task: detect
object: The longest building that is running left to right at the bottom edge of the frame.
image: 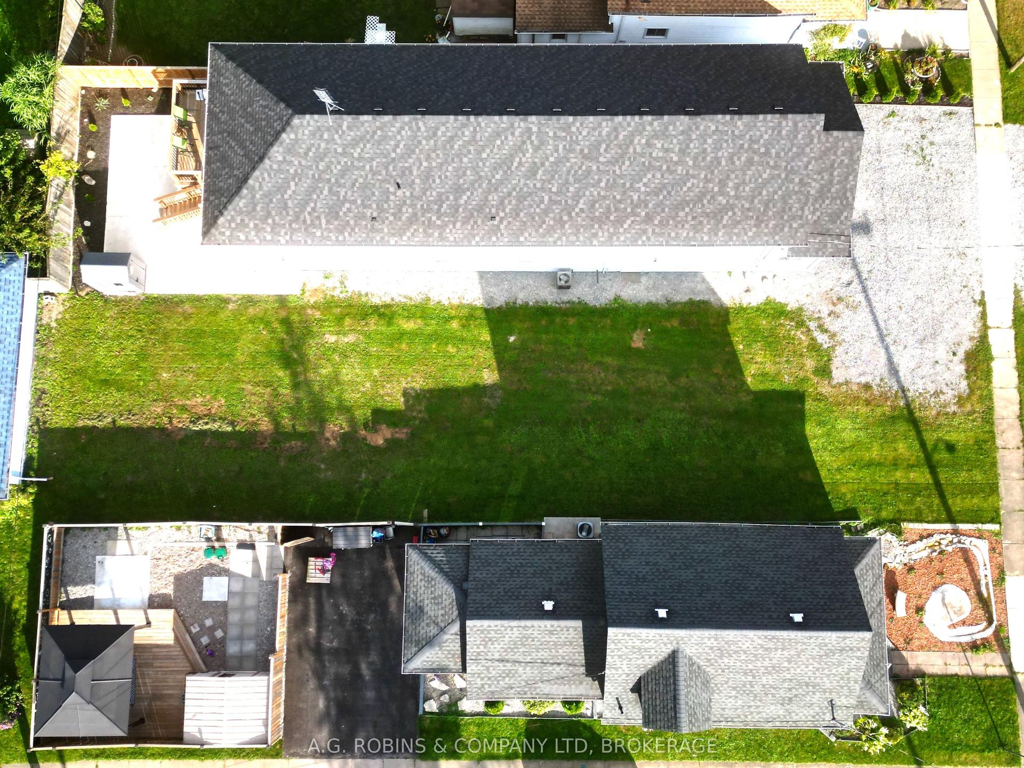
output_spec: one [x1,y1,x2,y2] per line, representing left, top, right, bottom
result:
[401,520,892,734]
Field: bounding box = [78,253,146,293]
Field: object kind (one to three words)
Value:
shed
